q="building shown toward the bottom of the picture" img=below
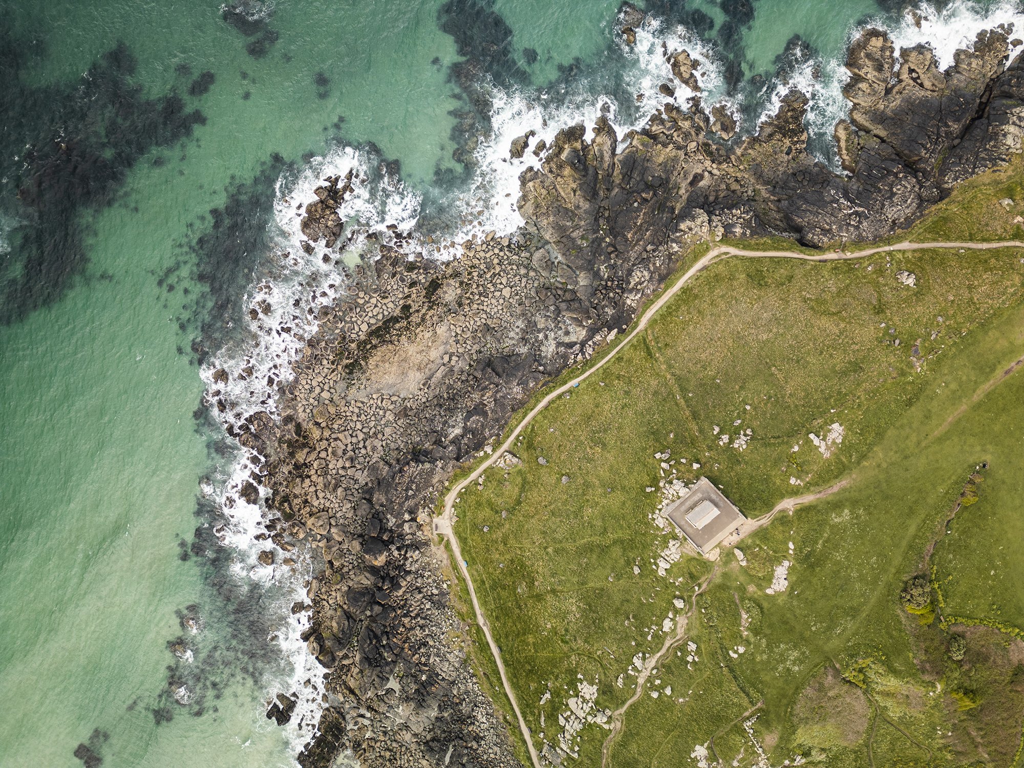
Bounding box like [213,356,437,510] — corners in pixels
[661,474,746,557]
